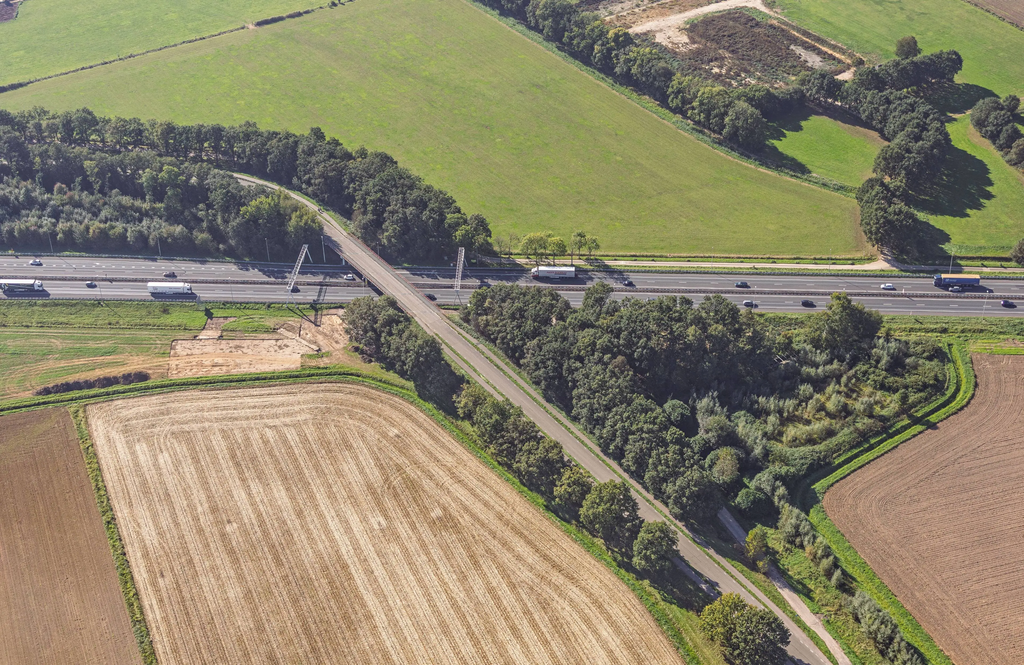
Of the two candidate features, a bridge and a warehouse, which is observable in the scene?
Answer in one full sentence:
Looking from above, you can make out a bridge.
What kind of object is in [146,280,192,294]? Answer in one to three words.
vehicle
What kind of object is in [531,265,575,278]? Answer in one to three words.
vehicle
